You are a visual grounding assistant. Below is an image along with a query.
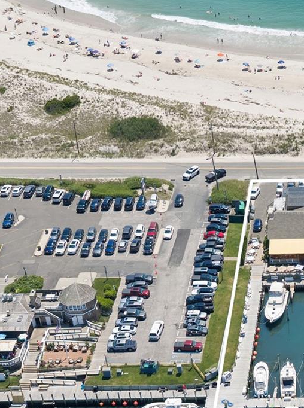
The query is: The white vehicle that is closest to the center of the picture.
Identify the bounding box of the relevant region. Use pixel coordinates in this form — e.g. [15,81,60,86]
[146,194,160,209]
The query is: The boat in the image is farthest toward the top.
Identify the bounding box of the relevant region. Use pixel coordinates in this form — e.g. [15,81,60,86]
[266,286,288,324]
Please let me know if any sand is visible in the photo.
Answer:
Yes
